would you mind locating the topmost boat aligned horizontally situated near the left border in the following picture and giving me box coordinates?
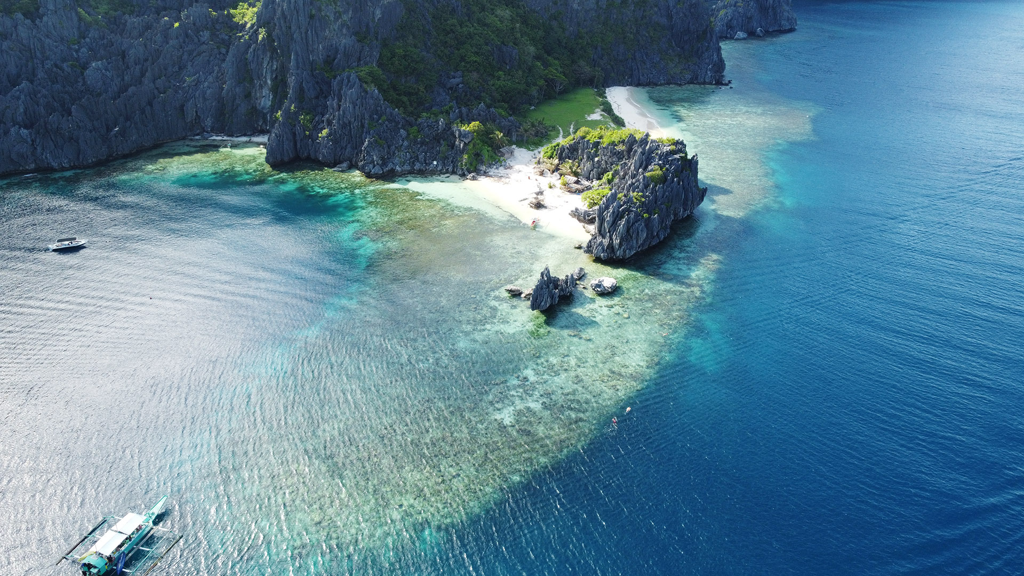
[47,235,88,251]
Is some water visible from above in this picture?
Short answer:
Yes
